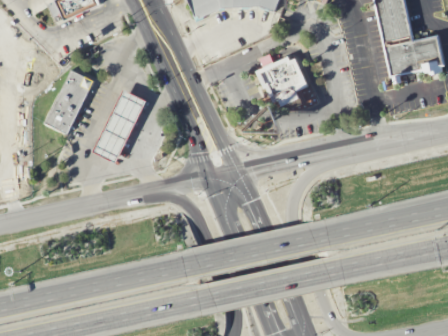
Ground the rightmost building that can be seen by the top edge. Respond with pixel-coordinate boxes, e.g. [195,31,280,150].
[374,0,445,90]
